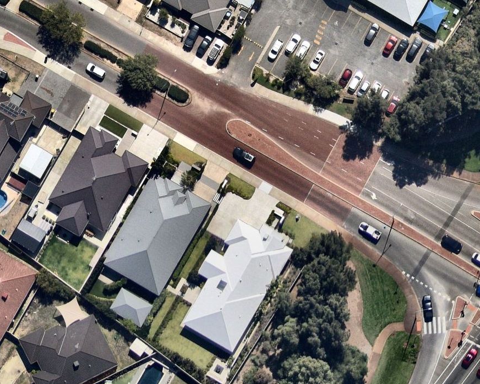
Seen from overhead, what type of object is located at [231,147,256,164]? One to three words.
vehicle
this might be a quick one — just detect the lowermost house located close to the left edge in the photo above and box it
[19,315,118,384]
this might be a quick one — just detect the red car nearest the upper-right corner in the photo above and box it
[382,34,397,56]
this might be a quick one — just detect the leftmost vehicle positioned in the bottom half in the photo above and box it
[358,223,382,241]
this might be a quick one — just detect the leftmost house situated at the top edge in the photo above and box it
[164,0,231,33]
